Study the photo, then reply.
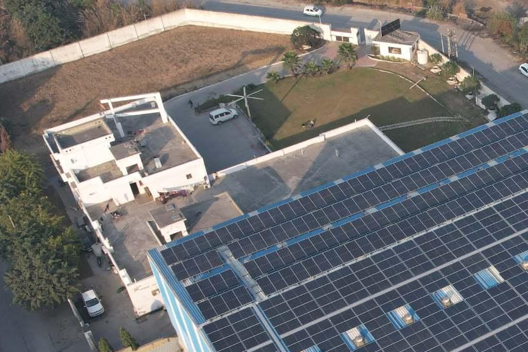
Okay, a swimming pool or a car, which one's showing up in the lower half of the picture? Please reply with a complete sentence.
The one visible in the lower half of the picture is a car.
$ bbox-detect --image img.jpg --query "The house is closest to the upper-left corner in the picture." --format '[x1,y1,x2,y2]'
[42,91,210,229]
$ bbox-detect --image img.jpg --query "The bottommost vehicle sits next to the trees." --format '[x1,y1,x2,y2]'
[80,285,104,314]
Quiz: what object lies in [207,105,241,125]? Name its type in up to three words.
vehicle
